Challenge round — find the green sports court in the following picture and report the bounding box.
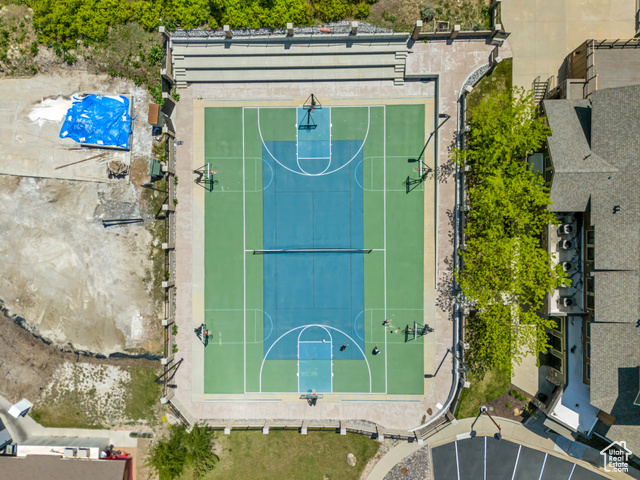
[192,97,436,402]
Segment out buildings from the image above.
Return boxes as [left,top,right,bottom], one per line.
[521,35,640,463]
[0,436,139,480]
